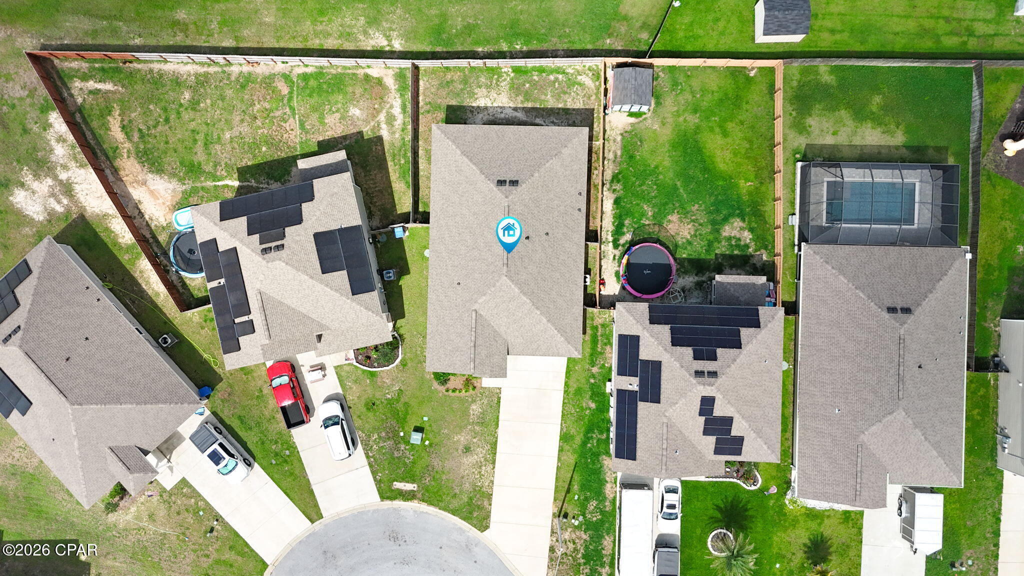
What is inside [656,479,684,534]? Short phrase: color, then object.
white car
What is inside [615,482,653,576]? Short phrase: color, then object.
white trailer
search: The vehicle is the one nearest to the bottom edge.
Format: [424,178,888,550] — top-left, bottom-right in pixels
[653,544,680,576]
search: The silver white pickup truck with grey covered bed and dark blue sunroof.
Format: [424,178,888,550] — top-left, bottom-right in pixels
[189,418,255,485]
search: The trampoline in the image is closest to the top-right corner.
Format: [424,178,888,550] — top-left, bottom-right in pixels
[620,242,681,298]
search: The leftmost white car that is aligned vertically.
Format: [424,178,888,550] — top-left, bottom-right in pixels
[320,398,355,460]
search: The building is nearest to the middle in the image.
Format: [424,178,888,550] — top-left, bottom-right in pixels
[426,123,589,379]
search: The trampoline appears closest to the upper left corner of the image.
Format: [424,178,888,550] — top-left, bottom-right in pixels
[159,229,205,278]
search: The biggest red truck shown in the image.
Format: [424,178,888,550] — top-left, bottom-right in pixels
[270,357,311,429]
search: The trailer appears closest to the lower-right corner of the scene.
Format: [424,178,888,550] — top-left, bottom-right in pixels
[897,488,944,561]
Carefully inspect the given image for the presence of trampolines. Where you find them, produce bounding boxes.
[159,229,205,278]
[620,242,681,298]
